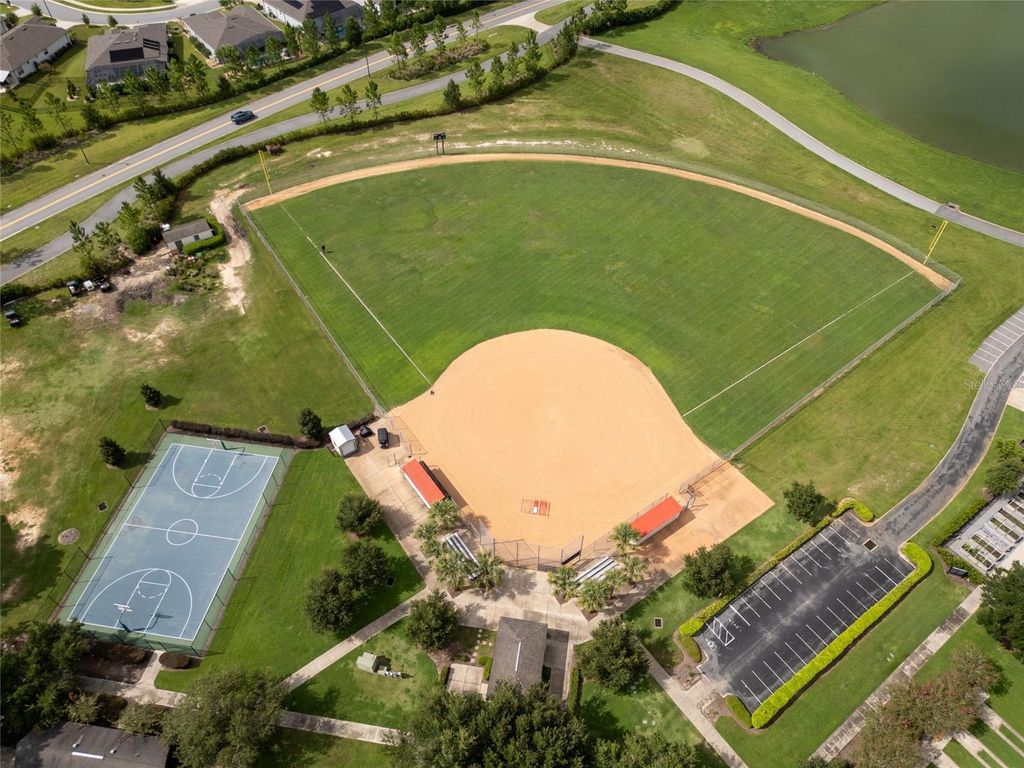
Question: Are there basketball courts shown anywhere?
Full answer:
Yes, I can see a basketball court in this picture.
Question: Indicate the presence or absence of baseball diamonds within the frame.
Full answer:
Yes, the photo shows a baseball diamond.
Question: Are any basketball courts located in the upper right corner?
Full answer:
No, no basketball court is visible in the upper right corner.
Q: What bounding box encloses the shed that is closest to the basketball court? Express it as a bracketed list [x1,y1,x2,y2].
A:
[329,425,357,457]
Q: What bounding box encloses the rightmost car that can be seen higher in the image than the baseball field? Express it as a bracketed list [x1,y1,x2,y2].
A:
[231,112,254,125]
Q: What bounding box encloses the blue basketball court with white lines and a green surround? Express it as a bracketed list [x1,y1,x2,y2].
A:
[43,432,295,658]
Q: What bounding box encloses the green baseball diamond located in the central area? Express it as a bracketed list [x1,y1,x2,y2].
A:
[242,154,957,583]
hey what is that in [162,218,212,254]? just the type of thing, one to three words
shed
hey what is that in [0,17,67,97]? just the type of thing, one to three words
house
